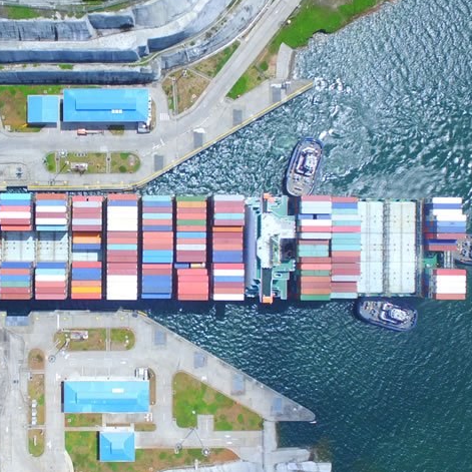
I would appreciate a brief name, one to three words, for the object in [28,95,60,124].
building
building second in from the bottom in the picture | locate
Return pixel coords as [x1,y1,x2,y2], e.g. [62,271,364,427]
[64,375,150,412]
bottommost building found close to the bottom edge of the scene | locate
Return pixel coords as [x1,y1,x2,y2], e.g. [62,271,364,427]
[99,427,135,461]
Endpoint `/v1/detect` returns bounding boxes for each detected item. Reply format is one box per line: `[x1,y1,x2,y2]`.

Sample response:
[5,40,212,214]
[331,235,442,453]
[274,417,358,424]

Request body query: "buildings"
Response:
[64,375,150,412]
[64,89,151,126]
[99,427,135,461]
[28,95,60,124]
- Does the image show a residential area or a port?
port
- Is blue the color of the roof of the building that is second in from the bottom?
Yes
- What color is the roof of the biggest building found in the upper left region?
blue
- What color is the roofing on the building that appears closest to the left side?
blue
